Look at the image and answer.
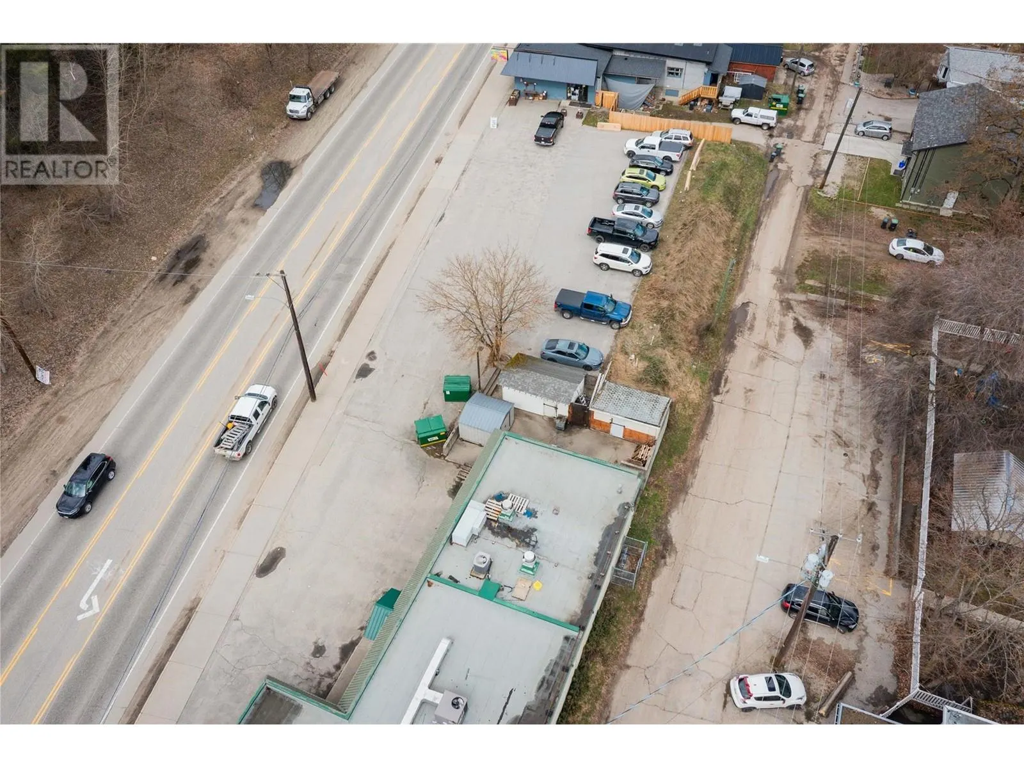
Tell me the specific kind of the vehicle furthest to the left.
automobile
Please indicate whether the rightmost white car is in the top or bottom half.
top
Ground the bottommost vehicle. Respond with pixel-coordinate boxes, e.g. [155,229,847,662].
[727,670,808,715]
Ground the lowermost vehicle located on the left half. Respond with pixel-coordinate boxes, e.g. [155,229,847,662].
[57,452,124,520]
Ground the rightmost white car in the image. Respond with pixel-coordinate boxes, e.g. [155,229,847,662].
[888,240,943,268]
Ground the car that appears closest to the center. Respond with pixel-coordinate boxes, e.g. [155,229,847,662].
[541,341,603,372]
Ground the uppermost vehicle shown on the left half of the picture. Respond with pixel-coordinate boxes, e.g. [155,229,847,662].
[288,71,344,118]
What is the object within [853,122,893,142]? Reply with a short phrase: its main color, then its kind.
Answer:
gray car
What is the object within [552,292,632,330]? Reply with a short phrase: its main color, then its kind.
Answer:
blue truck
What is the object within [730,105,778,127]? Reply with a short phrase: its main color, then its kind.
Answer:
white truck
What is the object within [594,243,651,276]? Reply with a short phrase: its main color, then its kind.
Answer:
white car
